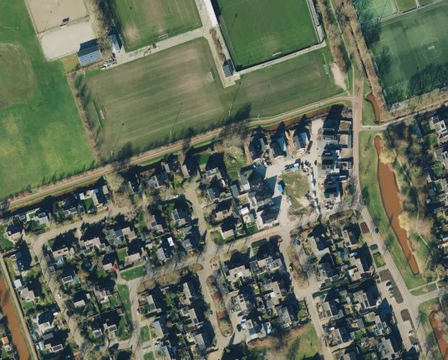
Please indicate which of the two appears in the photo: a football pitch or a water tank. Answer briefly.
football pitch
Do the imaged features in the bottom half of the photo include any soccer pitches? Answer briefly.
No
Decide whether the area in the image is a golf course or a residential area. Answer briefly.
residential area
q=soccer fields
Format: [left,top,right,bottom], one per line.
[369,0,448,104]
[80,40,230,161]
[351,0,401,24]
[214,0,319,67]
[110,0,201,53]
[226,47,342,116]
